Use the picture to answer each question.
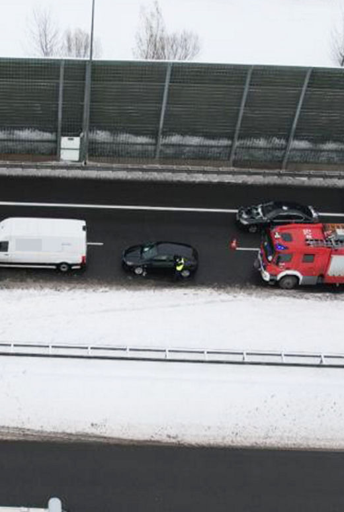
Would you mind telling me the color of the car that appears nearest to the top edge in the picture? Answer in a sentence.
From above, the car that appears nearest to the top edge appears black.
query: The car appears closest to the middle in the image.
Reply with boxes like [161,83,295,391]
[123,240,199,279]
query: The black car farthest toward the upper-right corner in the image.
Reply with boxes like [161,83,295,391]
[234,199,319,233]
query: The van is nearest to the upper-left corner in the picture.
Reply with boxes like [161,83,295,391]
[0,218,87,271]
